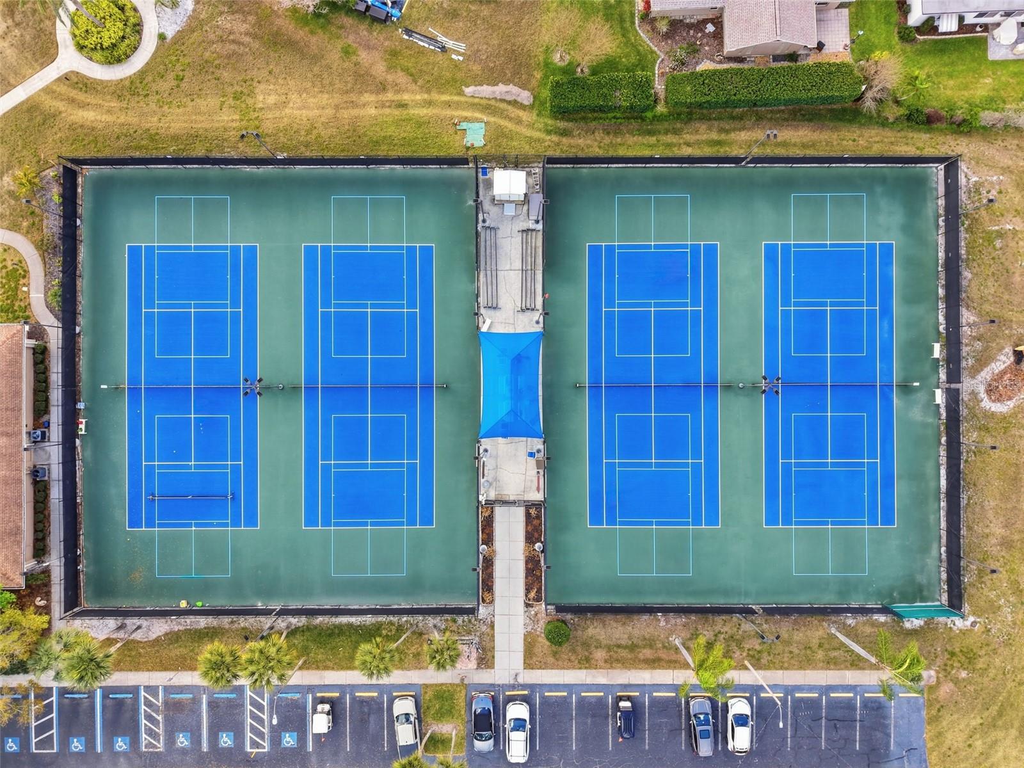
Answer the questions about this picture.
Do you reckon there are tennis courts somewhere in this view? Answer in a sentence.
Yes, this view includes a tennis court.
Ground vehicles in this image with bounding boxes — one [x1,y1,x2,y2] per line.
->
[687,692,717,755]
[616,693,634,739]
[503,697,532,762]
[727,693,756,755]
[314,696,334,742]
[390,694,421,768]
[469,691,496,749]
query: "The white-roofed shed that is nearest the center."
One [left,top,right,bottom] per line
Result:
[494,167,526,199]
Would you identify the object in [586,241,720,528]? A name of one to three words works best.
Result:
tennis court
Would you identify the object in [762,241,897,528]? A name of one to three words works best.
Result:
tennis court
